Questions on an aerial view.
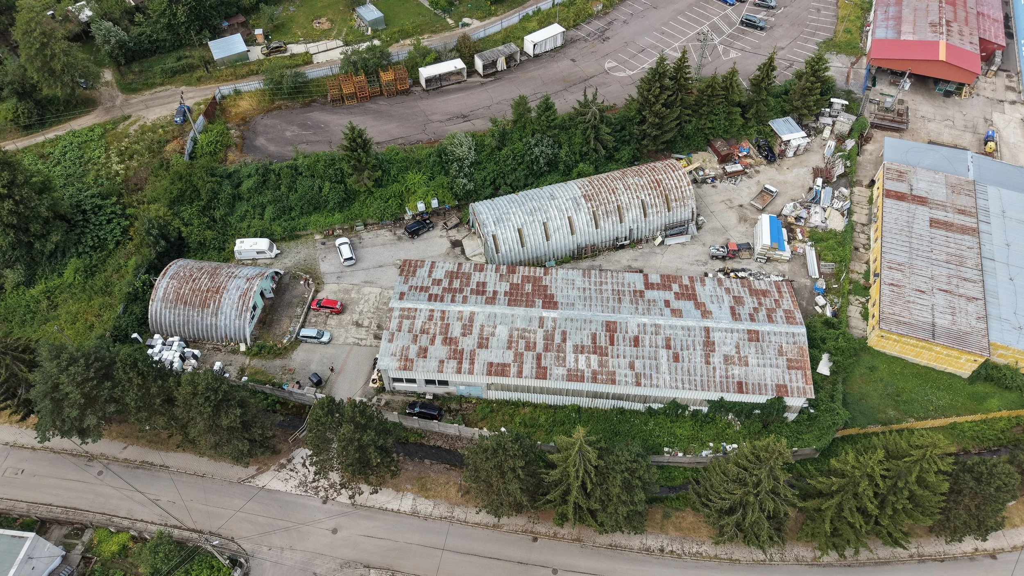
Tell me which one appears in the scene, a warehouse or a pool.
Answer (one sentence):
Visible in the photo is a warehouse.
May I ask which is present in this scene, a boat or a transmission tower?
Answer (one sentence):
Visible in the photo is a transmission tower.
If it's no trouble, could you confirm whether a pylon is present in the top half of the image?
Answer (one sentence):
Yes, I can see a pylon in the top half of the image.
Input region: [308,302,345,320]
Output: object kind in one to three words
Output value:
car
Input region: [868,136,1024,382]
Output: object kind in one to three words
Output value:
building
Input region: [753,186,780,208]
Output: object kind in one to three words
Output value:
truck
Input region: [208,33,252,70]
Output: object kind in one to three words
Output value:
shed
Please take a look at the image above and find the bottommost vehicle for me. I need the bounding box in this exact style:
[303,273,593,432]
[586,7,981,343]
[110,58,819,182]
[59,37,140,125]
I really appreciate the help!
[407,404,445,423]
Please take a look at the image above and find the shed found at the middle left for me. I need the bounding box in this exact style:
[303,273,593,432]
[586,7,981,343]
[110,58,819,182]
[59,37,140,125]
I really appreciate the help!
[148,256,282,346]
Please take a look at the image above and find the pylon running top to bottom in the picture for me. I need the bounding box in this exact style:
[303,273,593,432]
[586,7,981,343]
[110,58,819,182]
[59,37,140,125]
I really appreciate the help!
[690,21,718,86]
